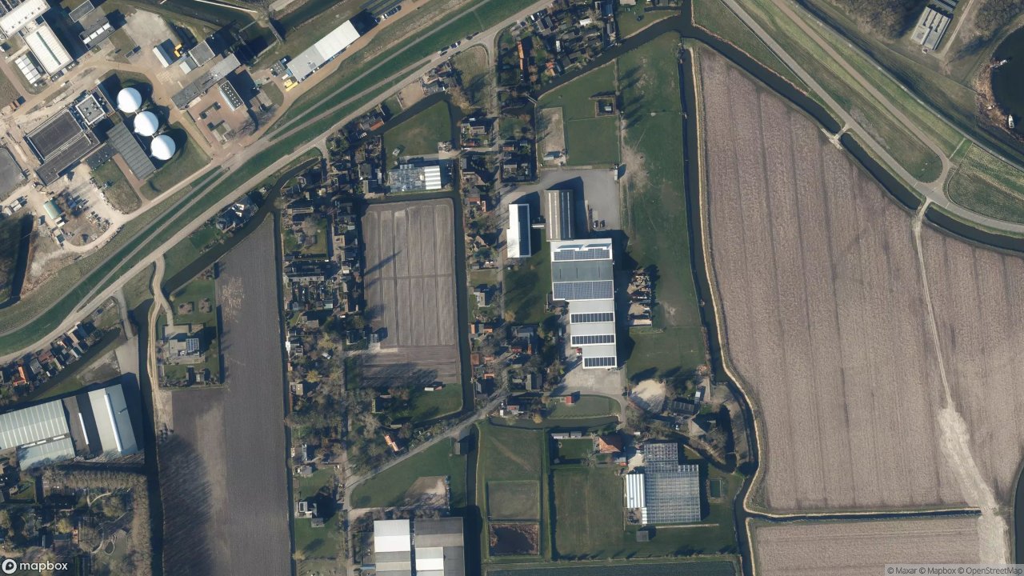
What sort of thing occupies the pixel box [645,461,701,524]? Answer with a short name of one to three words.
greenhouse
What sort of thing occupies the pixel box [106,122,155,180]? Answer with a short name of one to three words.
shed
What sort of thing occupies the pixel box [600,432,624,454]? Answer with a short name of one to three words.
house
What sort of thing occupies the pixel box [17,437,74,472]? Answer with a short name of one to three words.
building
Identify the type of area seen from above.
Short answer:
residential area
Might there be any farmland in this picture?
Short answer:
Yes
